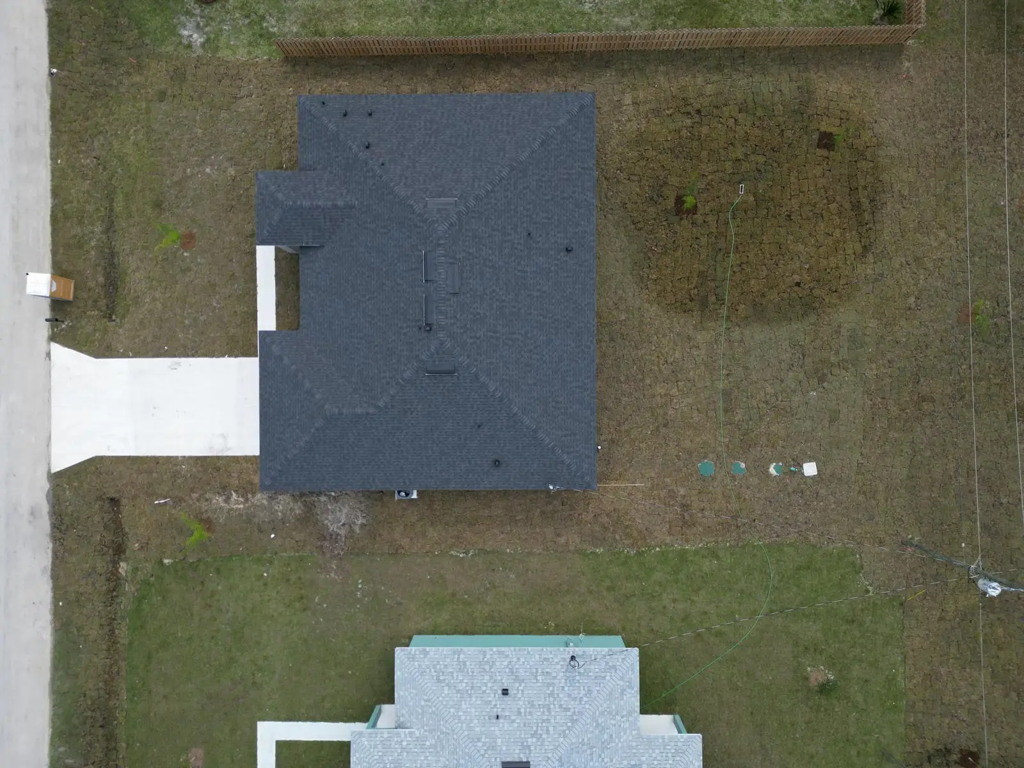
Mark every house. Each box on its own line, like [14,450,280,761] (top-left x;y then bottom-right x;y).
[350,622,702,768]
[256,92,596,494]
